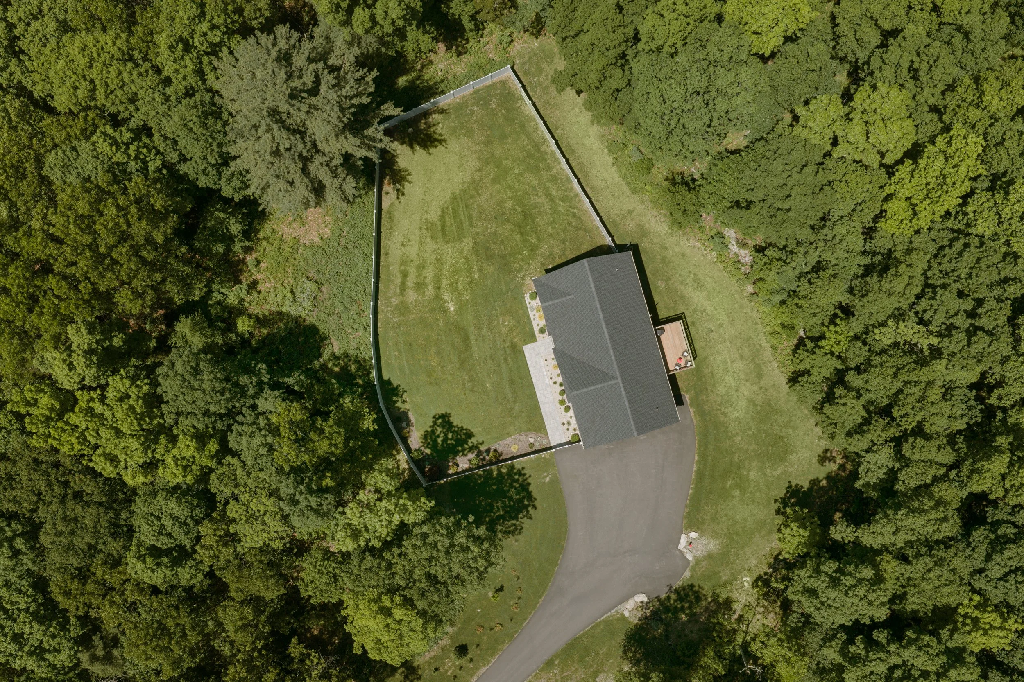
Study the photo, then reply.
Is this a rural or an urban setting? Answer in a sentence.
The area is rural.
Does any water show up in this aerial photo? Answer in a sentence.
No, there's no water in this view.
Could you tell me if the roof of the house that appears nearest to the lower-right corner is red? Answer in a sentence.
No, the color of the roof of the house that appears nearest to the lower-right corner is gray.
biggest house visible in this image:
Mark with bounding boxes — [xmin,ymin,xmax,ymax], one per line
[531,251,684,450]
